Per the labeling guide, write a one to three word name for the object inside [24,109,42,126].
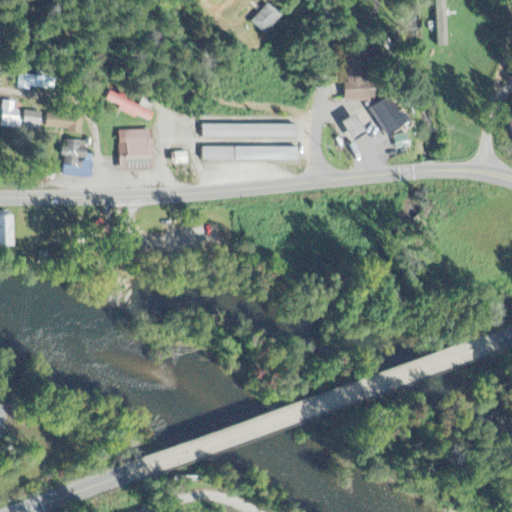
house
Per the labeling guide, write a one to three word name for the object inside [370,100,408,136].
building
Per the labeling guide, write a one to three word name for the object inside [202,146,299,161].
building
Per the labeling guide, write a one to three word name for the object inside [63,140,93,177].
house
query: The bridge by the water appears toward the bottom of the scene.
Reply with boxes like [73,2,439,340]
[140,326,512,476]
